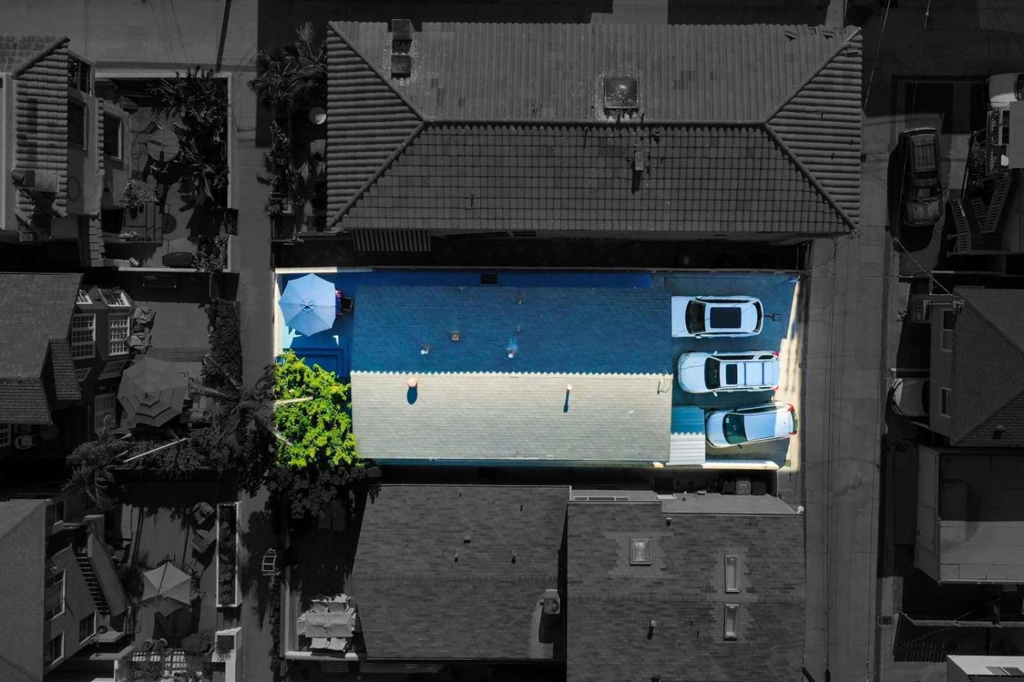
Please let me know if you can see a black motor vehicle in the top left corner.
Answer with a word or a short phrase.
No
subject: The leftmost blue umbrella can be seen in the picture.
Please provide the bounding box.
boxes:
[277,274,337,334]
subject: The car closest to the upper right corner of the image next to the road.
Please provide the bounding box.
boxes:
[979,69,1024,111]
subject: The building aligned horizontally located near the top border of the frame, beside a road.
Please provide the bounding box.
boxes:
[325,12,864,238]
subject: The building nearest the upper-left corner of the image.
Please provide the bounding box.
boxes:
[0,36,126,275]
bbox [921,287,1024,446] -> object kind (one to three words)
house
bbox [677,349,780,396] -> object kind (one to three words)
car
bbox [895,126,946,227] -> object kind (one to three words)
car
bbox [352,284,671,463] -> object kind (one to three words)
house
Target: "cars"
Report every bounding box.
[887,376,933,420]
[705,400,800,449]
[979,69,1024,111]
[895,126,946,227]
[677,349,780,396]
[670,292,765,340]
